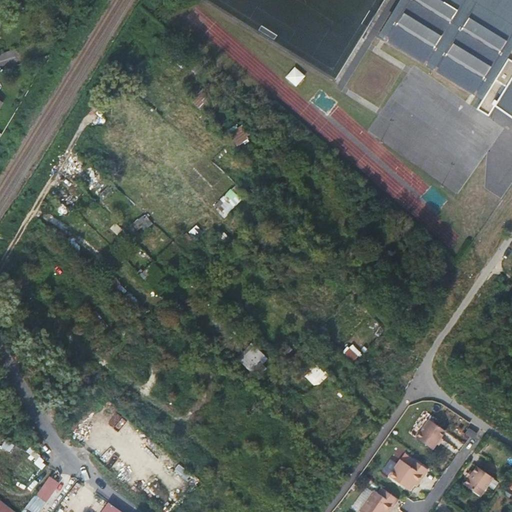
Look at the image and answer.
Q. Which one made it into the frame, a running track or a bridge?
running track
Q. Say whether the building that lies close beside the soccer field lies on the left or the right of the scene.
right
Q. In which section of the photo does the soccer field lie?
top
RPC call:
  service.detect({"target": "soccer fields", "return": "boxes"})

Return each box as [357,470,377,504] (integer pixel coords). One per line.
[210,0,383,79]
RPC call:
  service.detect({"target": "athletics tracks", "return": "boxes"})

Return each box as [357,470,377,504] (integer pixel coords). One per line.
[186,6,459,245]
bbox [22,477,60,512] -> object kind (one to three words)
building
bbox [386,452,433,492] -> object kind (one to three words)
house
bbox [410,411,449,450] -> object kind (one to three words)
house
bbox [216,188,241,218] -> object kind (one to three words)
shed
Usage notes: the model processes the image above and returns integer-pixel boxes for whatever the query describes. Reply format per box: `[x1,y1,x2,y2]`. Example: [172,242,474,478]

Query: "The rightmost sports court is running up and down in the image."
[484,108,512,199]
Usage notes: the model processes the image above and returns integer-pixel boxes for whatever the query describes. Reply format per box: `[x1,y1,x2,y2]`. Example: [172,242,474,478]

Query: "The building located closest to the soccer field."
[378,0,512,100]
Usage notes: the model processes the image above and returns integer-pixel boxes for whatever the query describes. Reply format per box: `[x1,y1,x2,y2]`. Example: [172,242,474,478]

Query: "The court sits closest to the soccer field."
[367,66,505,195]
